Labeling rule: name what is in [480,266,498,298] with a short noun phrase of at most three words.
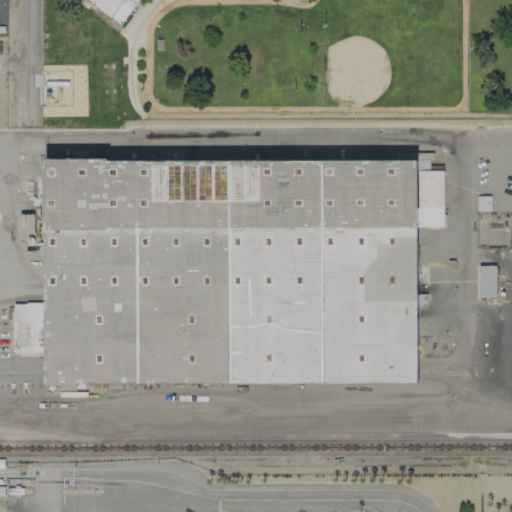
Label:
building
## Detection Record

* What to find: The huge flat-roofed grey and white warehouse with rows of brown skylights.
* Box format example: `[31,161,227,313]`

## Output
[39,158,418,384]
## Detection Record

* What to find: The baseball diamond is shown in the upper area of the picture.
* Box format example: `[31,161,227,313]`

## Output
[327,36,392,107]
